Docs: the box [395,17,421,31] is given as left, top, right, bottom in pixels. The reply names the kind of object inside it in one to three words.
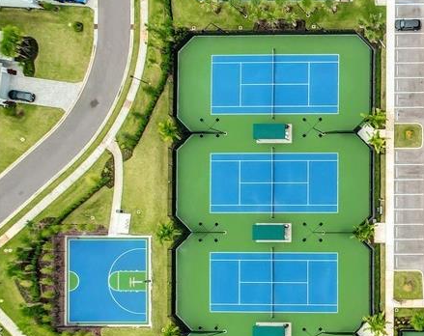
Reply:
vehicle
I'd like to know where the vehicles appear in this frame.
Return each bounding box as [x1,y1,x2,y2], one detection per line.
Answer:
[8,90,38,102]
[395,17,421,31]
[51,0,88,5]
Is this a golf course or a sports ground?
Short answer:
sports ground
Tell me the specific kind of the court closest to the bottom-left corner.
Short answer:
basketball court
